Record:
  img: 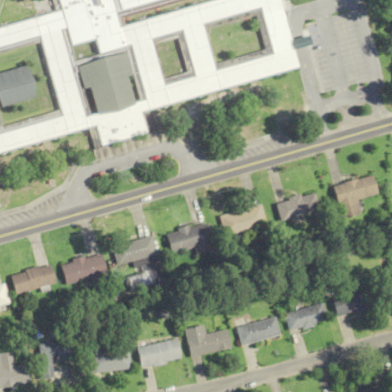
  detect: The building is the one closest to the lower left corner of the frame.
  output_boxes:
[0,353,30,388]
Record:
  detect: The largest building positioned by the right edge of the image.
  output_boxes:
[334,176,380,218]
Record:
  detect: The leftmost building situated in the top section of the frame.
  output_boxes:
[0,66,36,108]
